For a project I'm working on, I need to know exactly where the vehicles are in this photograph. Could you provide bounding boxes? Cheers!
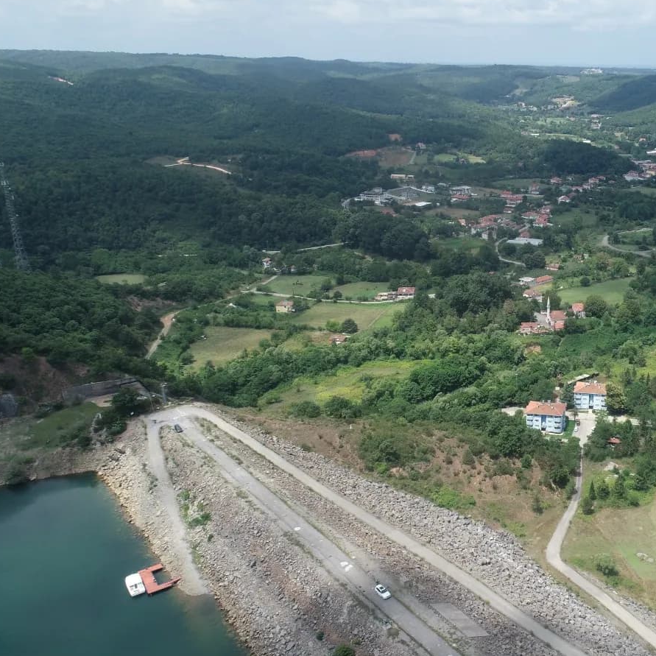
[372,581,392,600]
[174,421,183,432]
[573,424,580,430]
[575,418,581,424]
